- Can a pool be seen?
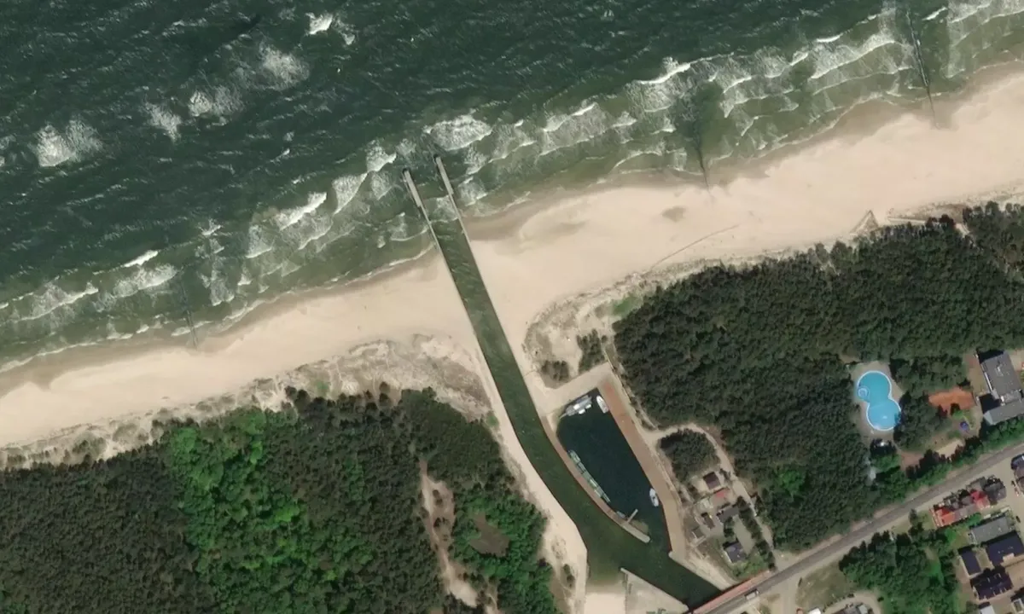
Yes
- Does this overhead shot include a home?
Yes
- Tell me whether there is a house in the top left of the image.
No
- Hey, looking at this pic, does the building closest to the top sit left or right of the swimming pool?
right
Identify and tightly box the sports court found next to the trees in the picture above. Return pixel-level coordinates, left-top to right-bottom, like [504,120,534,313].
[928,388,976,413]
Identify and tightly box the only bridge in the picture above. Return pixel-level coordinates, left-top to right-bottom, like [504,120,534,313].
[688,589,738,614]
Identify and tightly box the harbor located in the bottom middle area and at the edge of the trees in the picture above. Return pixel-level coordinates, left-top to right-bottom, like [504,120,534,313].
[541,364,686,551]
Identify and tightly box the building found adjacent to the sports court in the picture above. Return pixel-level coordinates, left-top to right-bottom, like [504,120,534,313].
[984,355,1024,431]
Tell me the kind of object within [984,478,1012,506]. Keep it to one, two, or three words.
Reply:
house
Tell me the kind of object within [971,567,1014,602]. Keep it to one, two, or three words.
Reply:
house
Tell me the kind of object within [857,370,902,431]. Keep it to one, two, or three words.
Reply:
swimming pool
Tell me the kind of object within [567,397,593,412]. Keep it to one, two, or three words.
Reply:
boat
